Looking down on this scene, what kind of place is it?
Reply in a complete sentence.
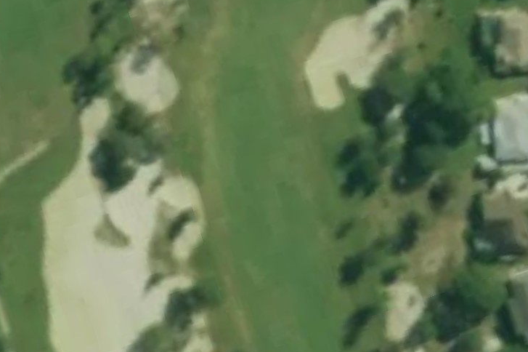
This image shows a golf course.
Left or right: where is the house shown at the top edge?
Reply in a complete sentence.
You can find the house shown at the top edge on the right side of the picture.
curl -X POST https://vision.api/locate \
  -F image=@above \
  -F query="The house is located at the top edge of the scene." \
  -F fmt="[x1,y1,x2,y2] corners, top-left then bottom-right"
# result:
[477,10,528,73]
